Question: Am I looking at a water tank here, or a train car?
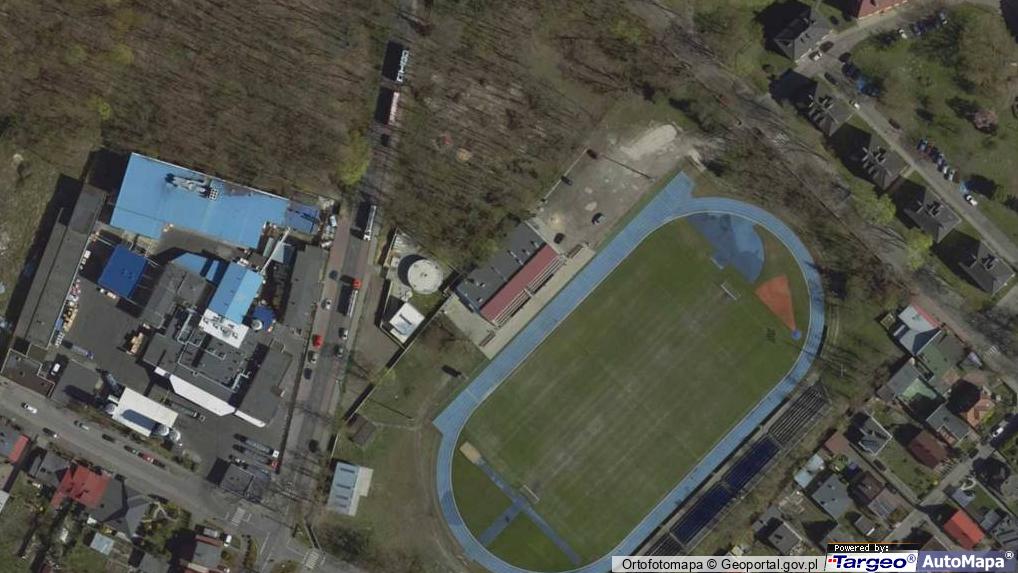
water tank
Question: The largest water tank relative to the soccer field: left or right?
to the left of it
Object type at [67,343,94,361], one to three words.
vehicle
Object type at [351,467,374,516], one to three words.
building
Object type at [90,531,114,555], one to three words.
shed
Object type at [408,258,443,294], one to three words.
water tank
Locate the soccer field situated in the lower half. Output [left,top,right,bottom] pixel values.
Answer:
[453,211,809,573]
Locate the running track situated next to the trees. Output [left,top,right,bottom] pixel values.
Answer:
[430,167,826,573]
